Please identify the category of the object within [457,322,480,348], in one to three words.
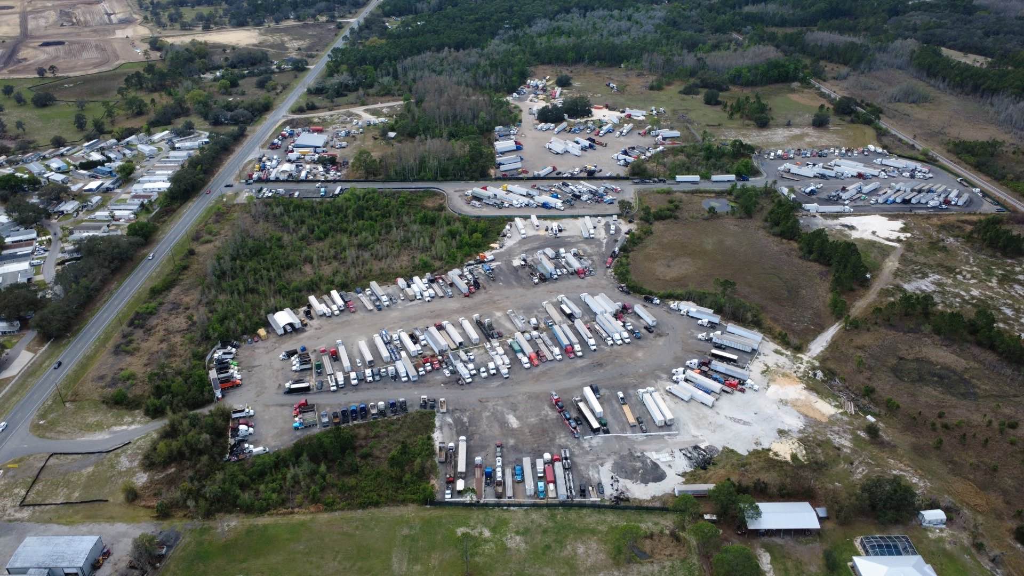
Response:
truck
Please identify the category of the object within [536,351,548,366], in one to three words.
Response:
vehicle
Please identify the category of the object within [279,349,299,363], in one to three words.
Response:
vehicle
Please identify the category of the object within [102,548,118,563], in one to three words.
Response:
work vehicle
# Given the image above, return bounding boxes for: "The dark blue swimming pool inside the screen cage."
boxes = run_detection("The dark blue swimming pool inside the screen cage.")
[856,540,913,556]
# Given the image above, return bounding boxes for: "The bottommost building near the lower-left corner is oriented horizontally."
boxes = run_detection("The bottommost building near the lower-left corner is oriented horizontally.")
[4,535,105,576]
